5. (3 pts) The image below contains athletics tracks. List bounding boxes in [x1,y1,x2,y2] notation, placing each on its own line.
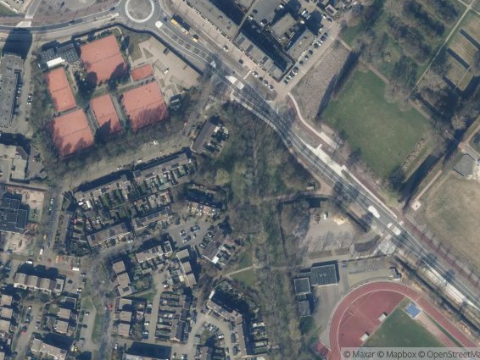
[328,281,480,360]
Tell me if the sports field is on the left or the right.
right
